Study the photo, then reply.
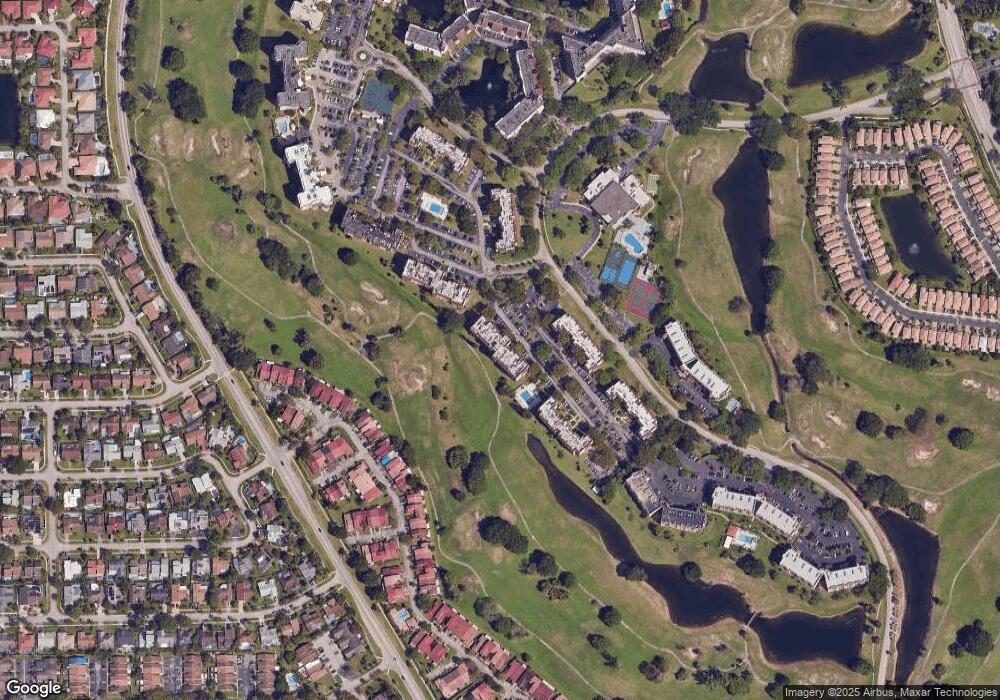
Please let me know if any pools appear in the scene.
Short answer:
Yes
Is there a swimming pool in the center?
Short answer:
Yes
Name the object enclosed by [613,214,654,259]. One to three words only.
swimming pool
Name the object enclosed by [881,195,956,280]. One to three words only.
pond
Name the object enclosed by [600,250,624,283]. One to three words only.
tennis court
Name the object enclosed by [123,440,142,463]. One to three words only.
house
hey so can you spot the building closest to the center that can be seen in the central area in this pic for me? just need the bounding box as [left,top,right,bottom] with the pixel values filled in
[470,315,529,384]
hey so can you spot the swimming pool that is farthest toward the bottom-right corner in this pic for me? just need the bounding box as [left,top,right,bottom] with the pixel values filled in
[733,530,757,549]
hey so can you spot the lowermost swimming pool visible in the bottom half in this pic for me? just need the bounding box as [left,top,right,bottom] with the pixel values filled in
[285,672,299,690]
